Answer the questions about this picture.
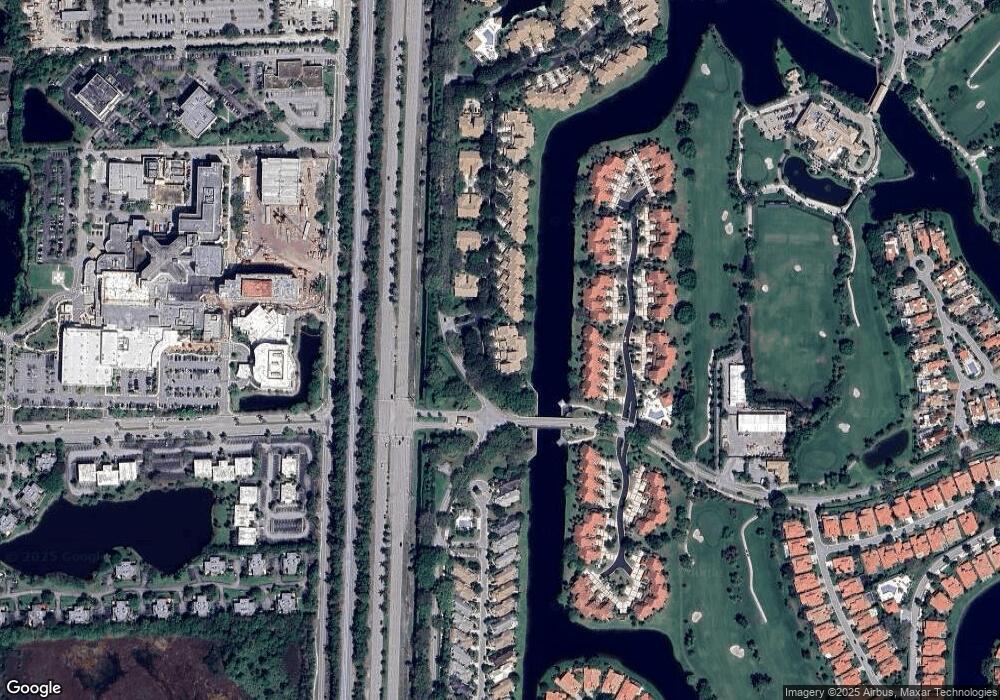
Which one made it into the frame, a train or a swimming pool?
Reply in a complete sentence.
This aerial view contains a swimming pool.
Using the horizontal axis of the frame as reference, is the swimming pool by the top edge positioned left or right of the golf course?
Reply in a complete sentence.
Relative to the golf course, the swimming pool by the top edge is on the left.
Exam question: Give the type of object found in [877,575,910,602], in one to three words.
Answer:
swimming pool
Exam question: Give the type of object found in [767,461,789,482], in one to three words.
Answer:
building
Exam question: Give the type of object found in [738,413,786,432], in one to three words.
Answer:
shed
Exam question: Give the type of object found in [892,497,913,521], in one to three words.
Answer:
house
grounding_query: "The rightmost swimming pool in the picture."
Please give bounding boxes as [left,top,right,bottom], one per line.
[964,359,980,377]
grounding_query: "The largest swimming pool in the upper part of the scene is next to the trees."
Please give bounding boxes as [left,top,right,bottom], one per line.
[466,18,502,62]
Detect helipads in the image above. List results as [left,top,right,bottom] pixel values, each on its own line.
[52,270,64,283]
